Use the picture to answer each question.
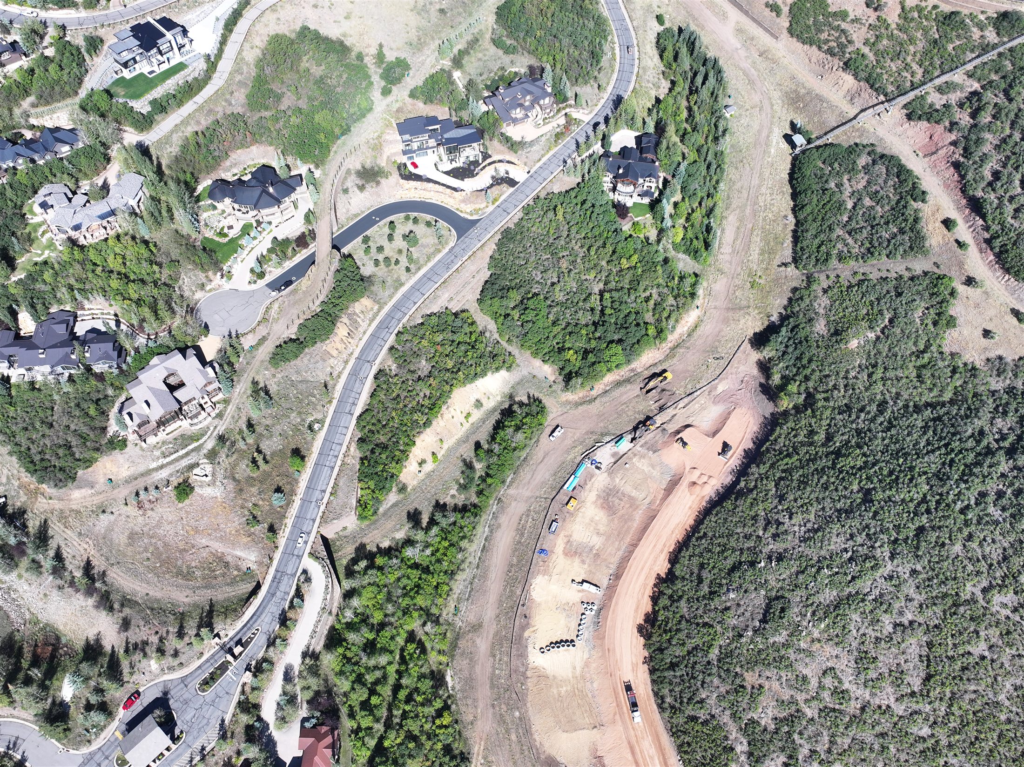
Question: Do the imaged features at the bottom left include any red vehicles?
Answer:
Yes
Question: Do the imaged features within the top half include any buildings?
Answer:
Yes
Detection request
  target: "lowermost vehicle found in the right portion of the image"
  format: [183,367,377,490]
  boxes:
[624,683,642,723]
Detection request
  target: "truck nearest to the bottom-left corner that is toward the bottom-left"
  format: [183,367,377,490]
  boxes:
[120,691,141,713]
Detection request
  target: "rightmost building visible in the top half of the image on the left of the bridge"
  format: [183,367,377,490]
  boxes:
[208,165,311,229]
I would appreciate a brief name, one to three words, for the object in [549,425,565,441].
vehicle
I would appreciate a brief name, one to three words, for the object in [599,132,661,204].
house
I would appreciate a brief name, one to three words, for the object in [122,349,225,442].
house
